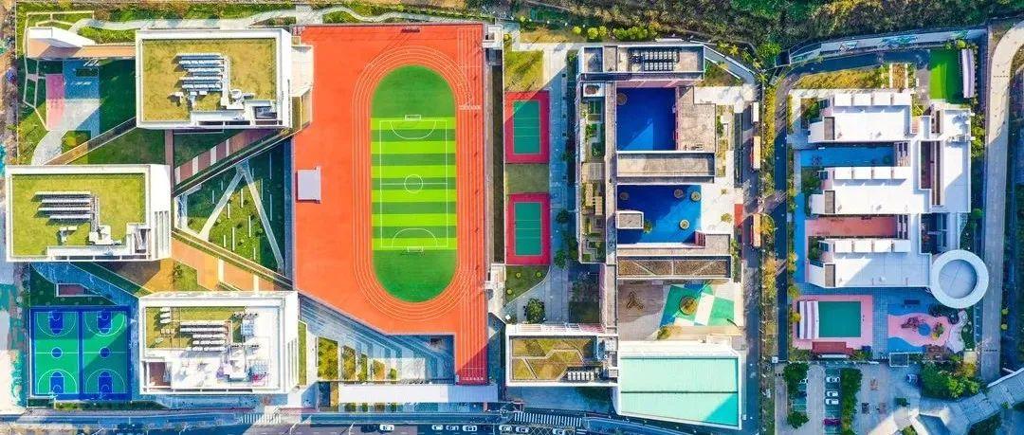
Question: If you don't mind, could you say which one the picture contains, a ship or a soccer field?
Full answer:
The one in the frame is a soccer field.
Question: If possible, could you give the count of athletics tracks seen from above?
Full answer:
Altogether the scene contains 1 athletics track.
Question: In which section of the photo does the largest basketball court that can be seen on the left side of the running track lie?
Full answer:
Look in the bottom left portion of the view to spot the largest basketball court that can be seen on the left side of the running track.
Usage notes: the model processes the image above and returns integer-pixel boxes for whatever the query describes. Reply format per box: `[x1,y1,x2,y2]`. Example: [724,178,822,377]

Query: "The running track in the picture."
[292,23,491,383]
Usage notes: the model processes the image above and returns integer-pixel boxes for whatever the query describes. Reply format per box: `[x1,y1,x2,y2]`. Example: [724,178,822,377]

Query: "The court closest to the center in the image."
[505,193,551,266]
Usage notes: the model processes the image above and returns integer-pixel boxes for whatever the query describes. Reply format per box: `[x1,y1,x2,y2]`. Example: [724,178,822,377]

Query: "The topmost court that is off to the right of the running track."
[505,91,549,164]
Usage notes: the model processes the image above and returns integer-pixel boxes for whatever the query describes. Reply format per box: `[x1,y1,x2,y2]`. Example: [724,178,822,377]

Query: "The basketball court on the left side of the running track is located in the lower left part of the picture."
[29,306,132,399]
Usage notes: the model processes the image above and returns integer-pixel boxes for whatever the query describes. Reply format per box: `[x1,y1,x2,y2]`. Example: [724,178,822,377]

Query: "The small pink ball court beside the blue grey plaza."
[46,74,64,131]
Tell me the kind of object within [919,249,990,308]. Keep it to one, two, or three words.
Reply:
building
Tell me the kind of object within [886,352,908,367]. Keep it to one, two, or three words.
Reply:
shed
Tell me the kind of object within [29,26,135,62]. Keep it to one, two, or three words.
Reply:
building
